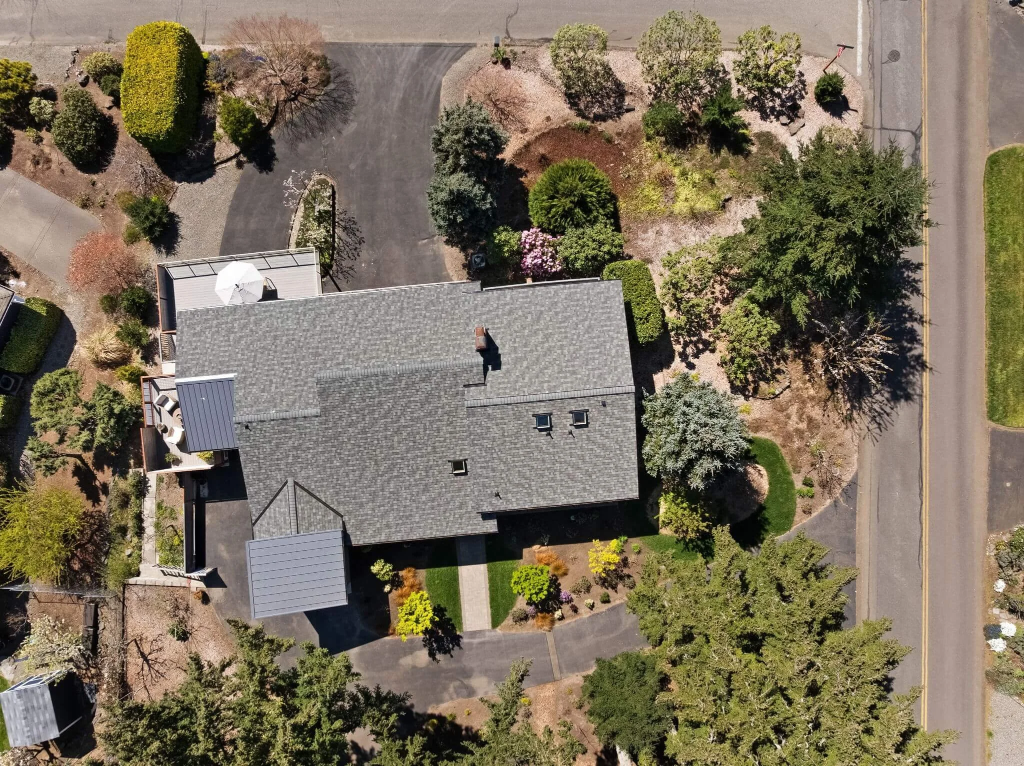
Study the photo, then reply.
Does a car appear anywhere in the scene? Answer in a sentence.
No, there isn't any car down there.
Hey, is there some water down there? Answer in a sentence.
No, there is no water in the image.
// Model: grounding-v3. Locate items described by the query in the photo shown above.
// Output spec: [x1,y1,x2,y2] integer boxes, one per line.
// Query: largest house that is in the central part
[171,279,638,547]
